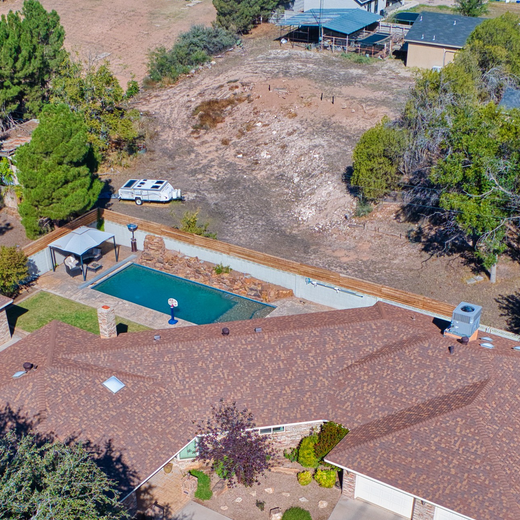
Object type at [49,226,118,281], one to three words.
gazebo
